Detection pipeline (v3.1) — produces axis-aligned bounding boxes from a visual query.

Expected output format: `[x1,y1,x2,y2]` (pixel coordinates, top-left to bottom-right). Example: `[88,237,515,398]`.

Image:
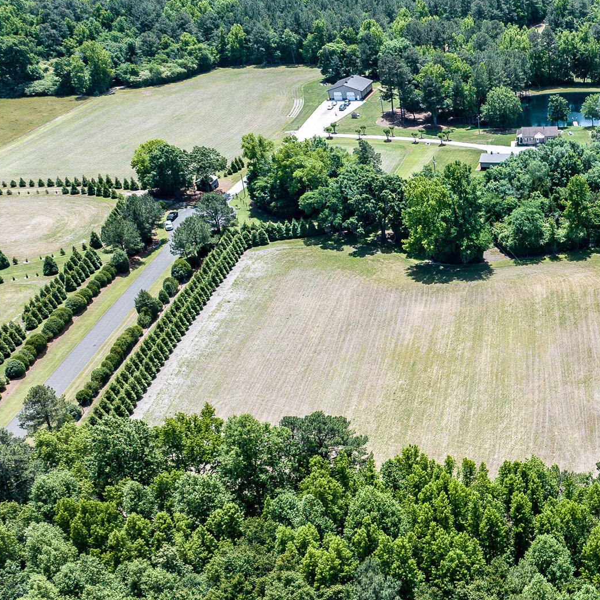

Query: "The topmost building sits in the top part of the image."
[327,74,372,101]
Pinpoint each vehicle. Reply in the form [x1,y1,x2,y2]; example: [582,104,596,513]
[344,98,350,105]
[326,103,334,109]
[331,98,338,105]
[338,102,346,109]
[164,211,179,221]
[164,220,173,231]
